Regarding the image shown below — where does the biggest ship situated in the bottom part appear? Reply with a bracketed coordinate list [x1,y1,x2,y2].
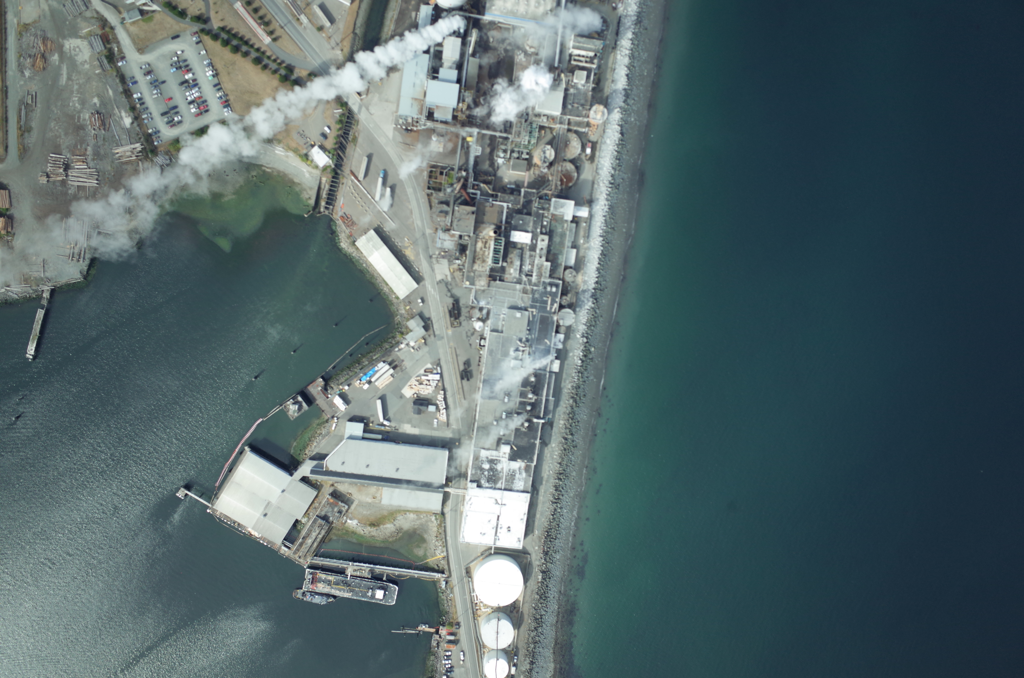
[302,568,399,605]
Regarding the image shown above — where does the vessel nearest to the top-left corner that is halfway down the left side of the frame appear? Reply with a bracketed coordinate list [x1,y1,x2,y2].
[25,309,47,362]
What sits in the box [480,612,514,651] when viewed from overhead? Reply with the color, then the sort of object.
white storage tank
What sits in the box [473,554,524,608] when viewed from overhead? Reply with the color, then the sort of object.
white storage tank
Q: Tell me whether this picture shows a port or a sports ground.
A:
port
